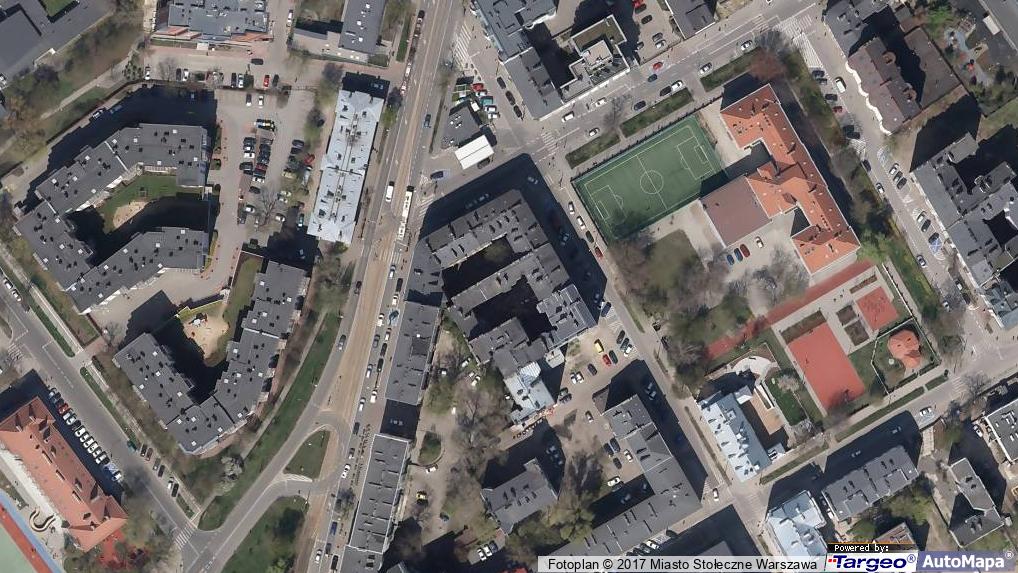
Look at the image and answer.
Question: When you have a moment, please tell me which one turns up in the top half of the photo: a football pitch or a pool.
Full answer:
The one visible in the top half of the photo is a football pitch.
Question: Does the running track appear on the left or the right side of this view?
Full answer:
The running track appears in the right half of the scene.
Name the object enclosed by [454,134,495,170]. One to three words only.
tent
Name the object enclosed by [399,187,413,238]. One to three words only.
vehicle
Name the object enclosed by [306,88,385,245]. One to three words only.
building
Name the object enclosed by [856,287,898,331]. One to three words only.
sports court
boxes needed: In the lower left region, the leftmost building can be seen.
[0,394,129,552]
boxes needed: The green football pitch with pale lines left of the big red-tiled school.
[572,115,731,243]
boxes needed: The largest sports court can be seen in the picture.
[788,322,865,410]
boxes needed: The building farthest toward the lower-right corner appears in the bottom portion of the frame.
[945,461,1004,547]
